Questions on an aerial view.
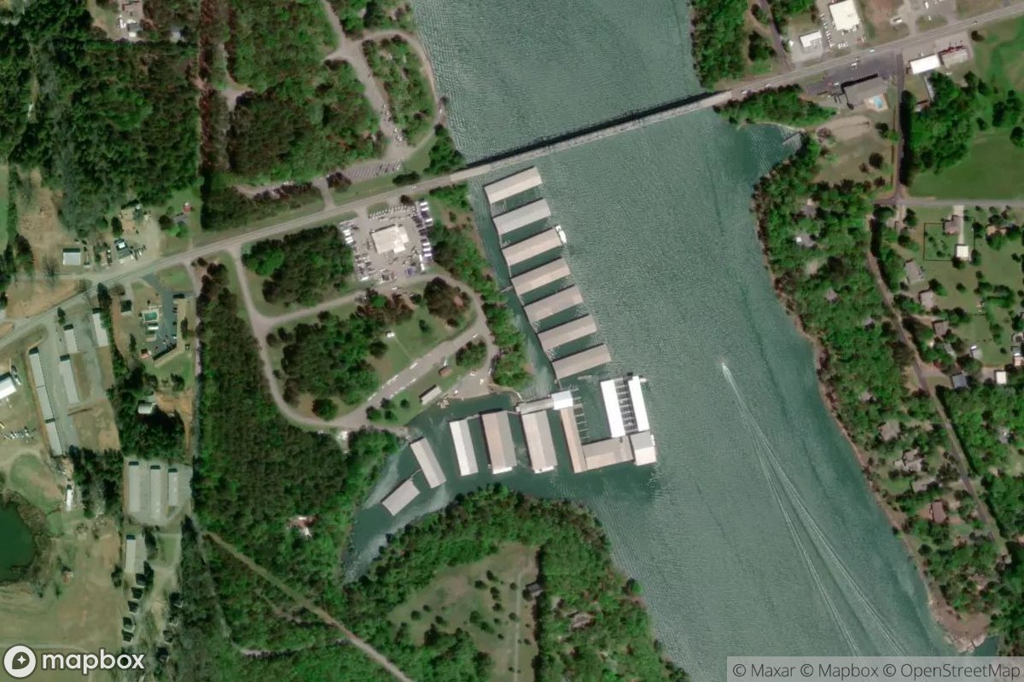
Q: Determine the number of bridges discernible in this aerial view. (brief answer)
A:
one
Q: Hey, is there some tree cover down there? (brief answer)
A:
Yes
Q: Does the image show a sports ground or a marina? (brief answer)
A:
marina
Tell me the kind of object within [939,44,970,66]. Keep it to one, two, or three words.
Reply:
building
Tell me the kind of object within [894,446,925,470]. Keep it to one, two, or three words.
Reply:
house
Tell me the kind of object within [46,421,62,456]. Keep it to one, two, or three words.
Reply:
shed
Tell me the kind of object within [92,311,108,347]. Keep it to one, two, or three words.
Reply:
shed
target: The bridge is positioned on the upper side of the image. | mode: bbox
[459,91,729,178]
